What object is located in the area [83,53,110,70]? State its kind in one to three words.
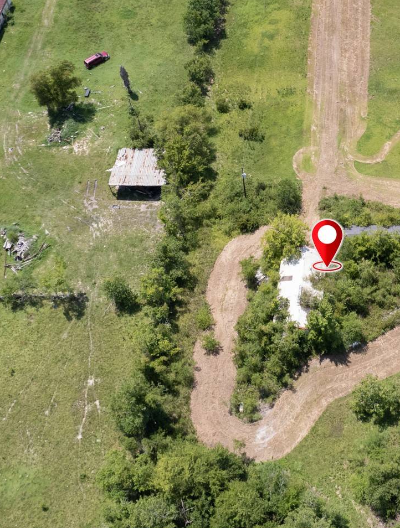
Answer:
vehicle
